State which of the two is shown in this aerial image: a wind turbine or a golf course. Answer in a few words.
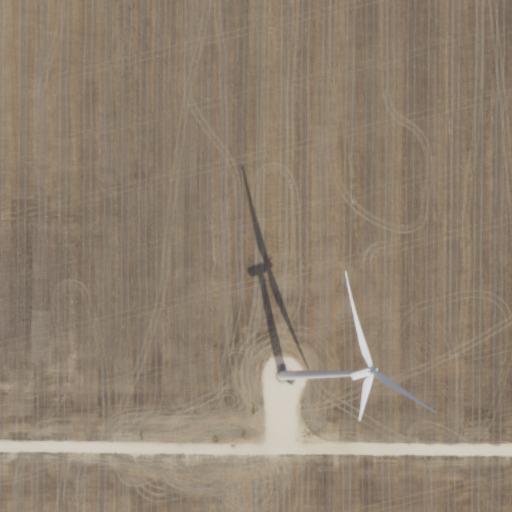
wind turbine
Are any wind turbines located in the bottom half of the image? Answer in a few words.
Yes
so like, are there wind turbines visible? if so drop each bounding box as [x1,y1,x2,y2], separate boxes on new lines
[277,270,434,420]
